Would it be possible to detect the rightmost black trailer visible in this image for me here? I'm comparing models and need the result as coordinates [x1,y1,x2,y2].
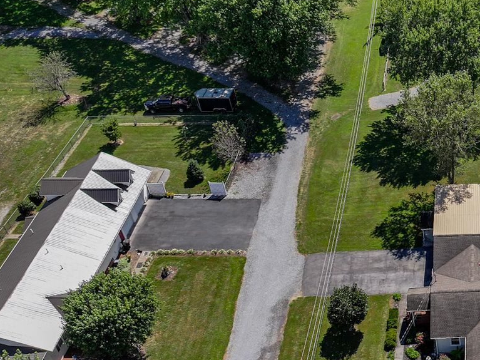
[192,89,238,113]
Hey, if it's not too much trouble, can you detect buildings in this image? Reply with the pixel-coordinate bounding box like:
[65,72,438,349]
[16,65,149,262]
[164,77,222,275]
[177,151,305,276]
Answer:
[407,183,480,360]
[0,151,153,360]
